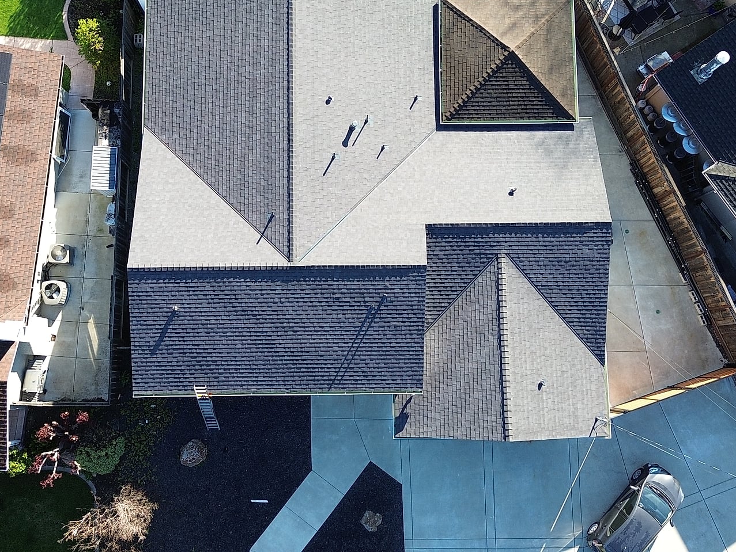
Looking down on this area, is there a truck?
No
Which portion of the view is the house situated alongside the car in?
center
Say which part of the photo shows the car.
bottom right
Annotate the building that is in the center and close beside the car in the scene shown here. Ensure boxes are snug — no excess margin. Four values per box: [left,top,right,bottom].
[125,0,616,440]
